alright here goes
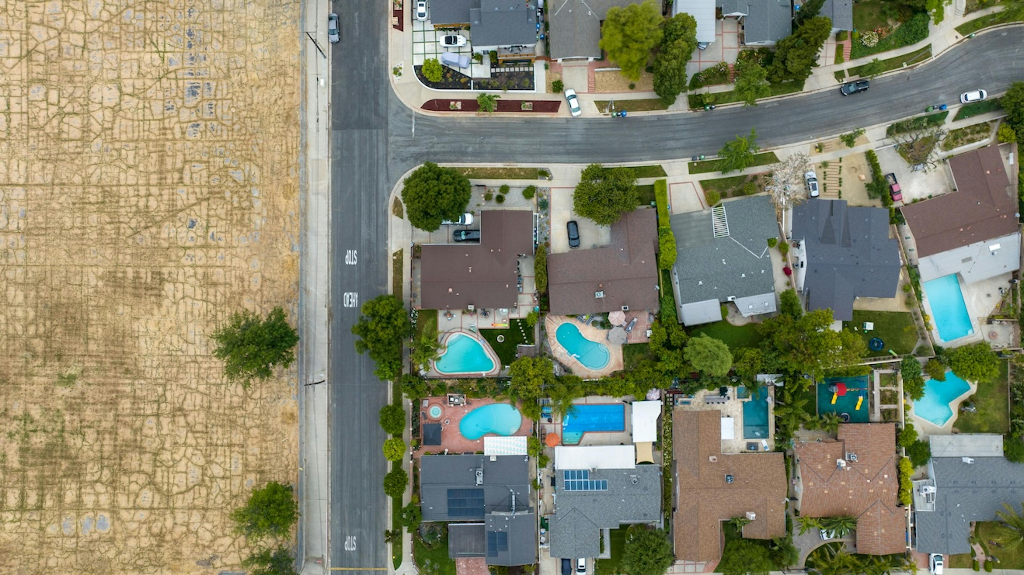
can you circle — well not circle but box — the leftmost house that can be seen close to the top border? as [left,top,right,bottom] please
[430,0,536,49]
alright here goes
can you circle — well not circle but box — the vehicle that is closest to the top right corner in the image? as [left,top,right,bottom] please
[958,89,987,104]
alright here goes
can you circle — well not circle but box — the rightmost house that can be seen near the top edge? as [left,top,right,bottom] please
[819,0,852,33]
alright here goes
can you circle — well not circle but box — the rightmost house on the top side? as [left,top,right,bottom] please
[899,144,1021,258]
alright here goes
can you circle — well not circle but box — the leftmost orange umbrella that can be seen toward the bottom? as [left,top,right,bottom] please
[545,433,559,447]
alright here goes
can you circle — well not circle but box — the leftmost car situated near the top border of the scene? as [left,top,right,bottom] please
[328,14,341,43]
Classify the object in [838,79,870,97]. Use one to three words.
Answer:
vehicle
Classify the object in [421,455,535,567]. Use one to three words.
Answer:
house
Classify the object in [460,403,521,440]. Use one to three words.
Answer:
swimming pool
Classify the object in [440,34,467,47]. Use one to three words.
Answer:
vehicle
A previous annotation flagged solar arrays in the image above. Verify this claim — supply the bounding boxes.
[488,532,498,557]
[565,481,607,491]
[498,532,507,551]
[448,509,485,517]
[448,490,484,499]
[565,471,589,480]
